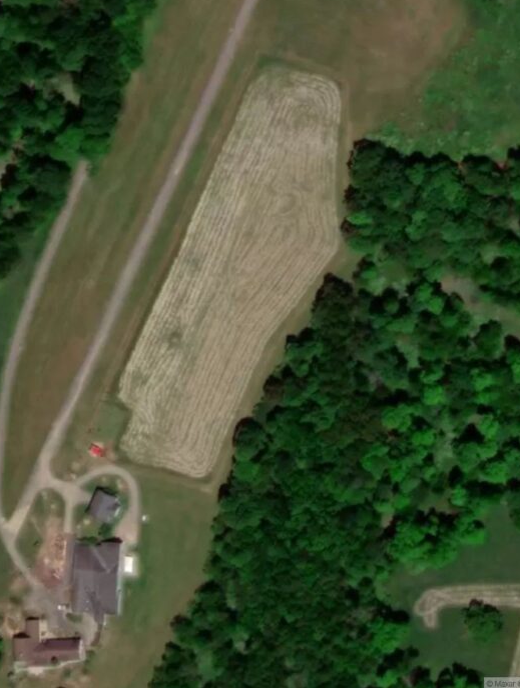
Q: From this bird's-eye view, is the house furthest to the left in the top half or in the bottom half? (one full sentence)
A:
The house furthest to the left is in the bottom half of the image.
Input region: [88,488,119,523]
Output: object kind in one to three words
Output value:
building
